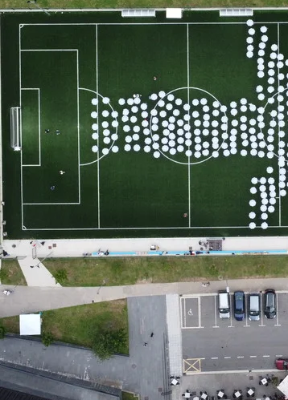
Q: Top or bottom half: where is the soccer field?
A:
top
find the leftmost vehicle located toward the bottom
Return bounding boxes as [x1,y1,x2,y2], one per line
[218,291,231,319]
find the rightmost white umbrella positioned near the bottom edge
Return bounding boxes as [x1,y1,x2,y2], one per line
[275,377,288,398]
